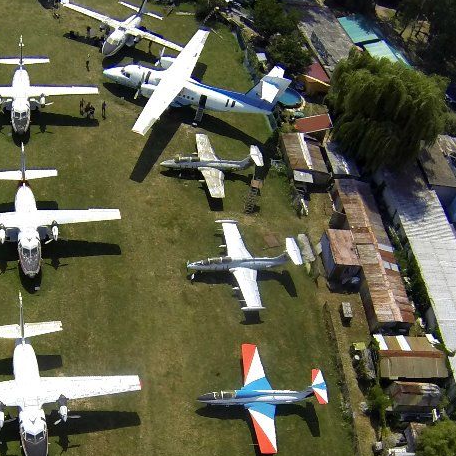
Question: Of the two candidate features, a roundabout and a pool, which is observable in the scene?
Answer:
pool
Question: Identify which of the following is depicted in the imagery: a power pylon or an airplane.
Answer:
airplane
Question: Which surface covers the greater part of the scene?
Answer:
grass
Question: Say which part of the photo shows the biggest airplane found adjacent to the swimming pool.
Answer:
top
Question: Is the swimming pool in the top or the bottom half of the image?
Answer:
top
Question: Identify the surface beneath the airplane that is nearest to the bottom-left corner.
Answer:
grass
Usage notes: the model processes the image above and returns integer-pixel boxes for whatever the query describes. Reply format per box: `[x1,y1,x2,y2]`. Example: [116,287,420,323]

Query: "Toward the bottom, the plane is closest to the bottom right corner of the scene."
[197,345,330,454]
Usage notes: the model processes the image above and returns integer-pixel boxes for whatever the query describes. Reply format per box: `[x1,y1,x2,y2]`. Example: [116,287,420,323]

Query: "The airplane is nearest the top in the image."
[60,0,187,59]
